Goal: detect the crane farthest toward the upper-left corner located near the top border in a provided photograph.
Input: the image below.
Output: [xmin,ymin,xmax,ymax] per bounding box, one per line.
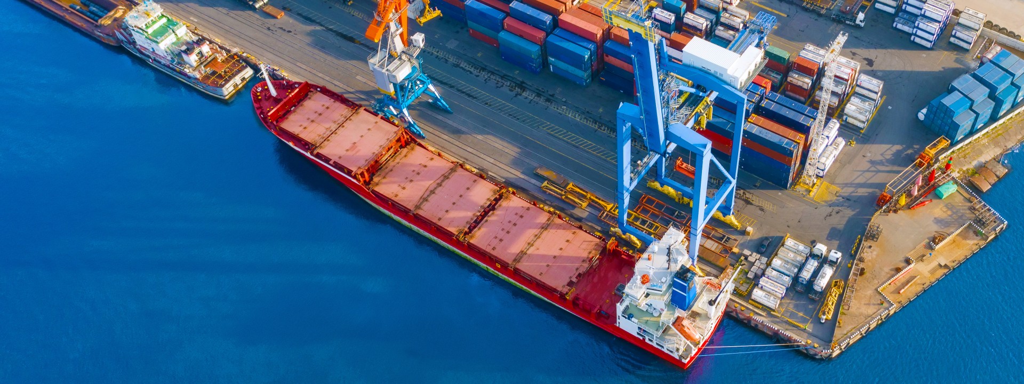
[346,0,456,140]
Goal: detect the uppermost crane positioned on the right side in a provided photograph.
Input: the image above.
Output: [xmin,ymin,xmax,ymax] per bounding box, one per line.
[589,0,790,274]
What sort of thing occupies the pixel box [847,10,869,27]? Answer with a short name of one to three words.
vehicle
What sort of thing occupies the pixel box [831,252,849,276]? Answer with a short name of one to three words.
vehicle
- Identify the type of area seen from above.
port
